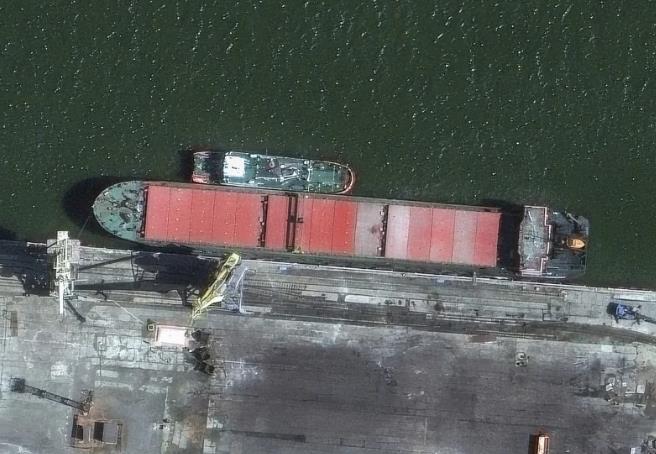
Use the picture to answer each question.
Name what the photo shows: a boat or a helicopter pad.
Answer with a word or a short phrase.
boat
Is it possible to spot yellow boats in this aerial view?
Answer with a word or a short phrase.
No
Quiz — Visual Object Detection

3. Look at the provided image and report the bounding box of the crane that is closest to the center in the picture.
[190,247,256,325]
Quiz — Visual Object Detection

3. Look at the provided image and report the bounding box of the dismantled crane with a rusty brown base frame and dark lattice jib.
[10,379,121,448]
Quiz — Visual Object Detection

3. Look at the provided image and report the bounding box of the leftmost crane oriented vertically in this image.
[43,234,86,321]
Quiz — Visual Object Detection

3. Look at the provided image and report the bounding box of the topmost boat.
[192,150,354,193]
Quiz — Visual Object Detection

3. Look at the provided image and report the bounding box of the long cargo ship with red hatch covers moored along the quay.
[90,181,591,275]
